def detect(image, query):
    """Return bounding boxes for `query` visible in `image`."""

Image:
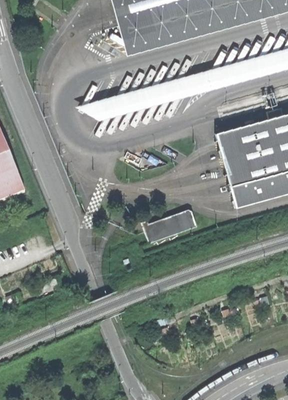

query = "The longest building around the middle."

[142,210,197,244]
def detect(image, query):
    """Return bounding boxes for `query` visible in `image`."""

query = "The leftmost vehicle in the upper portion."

[79,81,98,107]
